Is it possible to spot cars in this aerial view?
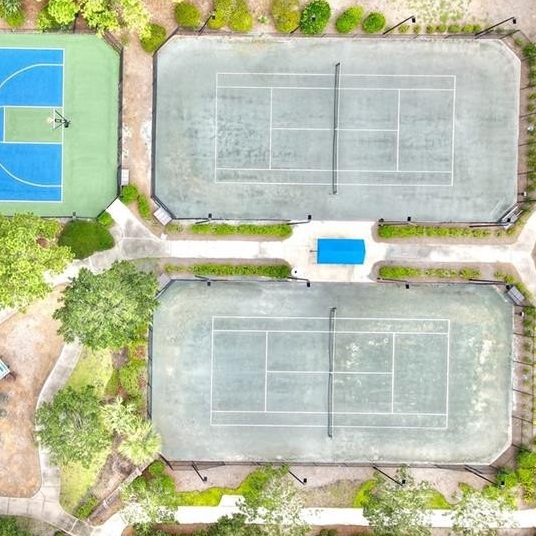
No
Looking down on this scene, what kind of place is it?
sports ground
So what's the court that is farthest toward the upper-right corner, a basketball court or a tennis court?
tennis court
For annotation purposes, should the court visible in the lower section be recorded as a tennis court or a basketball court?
tennis court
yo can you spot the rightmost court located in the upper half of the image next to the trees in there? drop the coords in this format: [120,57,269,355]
[152,35,521,221]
